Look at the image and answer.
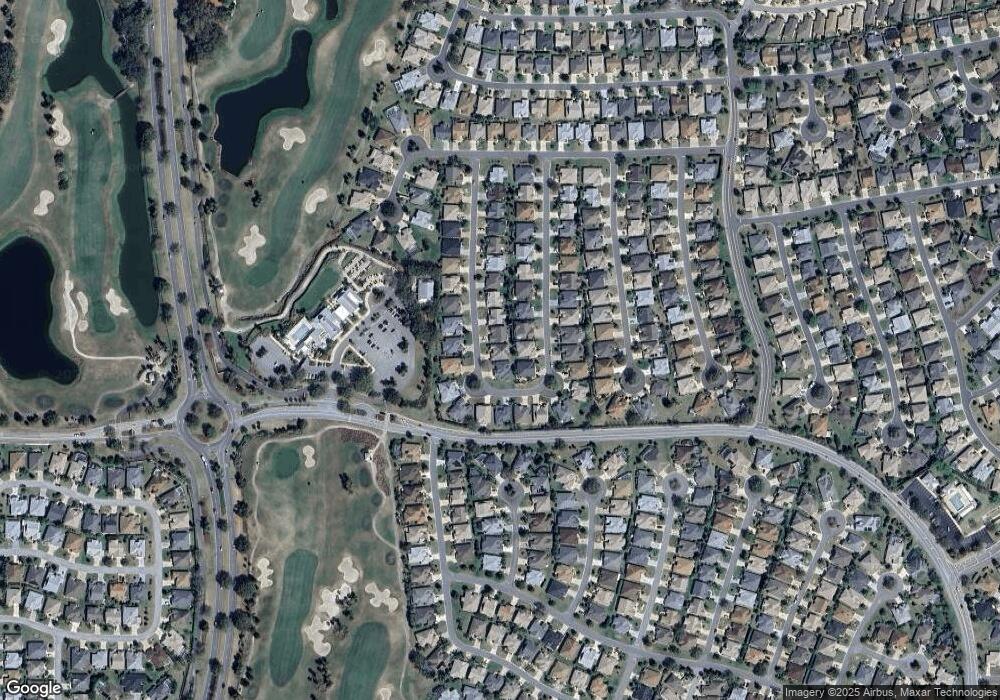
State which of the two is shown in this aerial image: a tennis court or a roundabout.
roundabout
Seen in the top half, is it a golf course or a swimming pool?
golf course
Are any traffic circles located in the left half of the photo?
Yes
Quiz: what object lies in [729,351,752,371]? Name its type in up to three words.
house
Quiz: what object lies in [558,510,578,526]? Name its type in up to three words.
house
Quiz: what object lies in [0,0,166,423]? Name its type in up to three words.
golf course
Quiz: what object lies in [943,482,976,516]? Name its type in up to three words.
swimming pool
